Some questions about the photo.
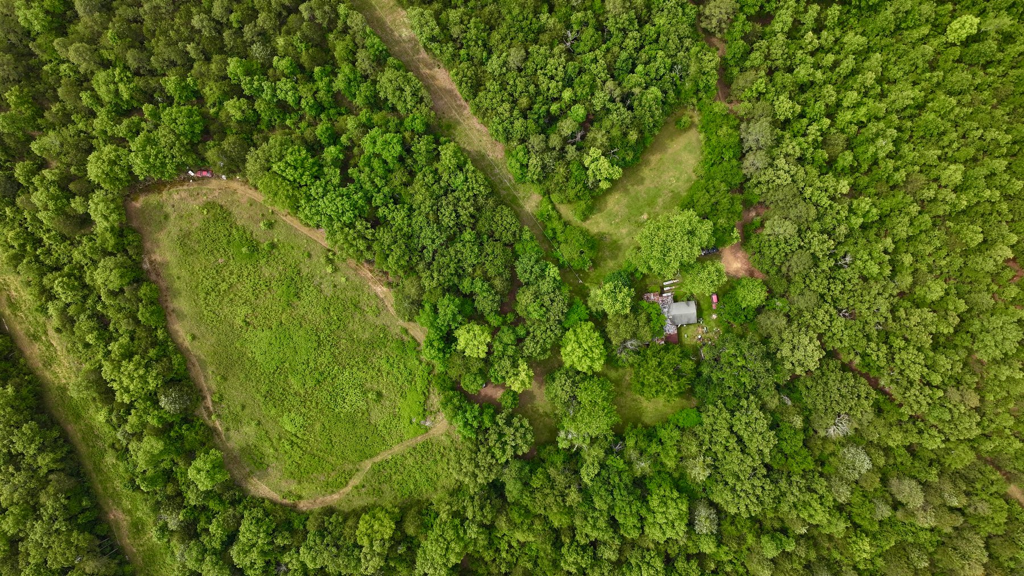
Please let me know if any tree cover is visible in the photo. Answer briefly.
Yes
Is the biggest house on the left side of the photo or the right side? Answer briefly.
right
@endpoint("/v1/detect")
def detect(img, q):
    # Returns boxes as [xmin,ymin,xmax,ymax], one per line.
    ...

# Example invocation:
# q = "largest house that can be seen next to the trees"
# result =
[669,300,697,324]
